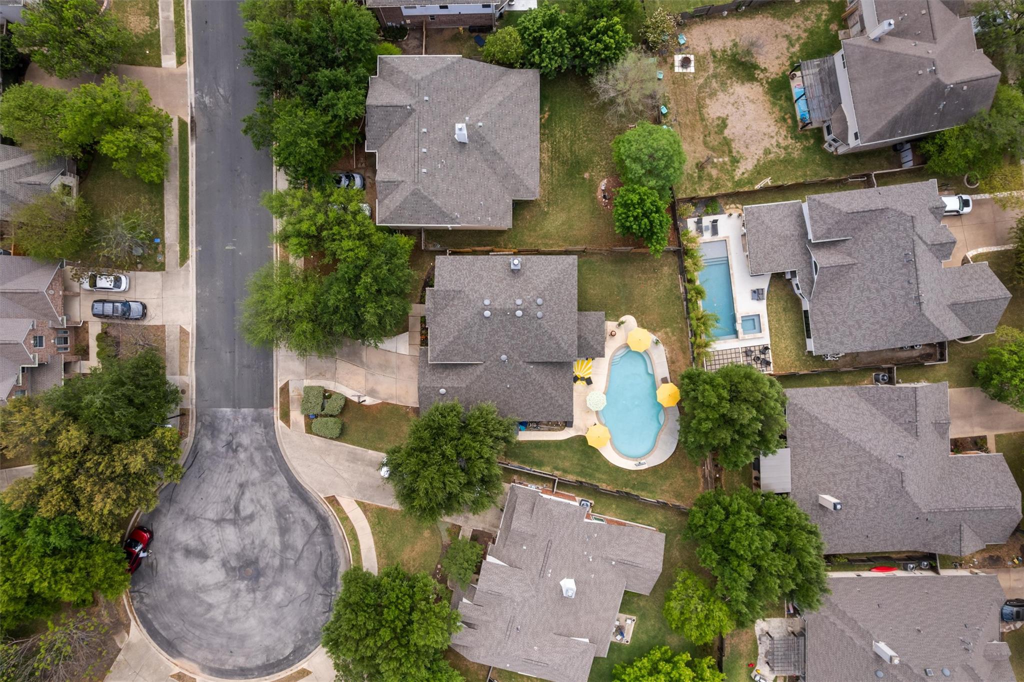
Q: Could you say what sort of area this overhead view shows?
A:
residential area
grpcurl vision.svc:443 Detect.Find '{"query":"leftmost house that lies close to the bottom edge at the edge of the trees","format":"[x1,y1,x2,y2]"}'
[449,482,670,682]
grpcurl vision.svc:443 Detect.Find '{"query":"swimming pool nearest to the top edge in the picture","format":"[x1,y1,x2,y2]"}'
[795,87,810,124]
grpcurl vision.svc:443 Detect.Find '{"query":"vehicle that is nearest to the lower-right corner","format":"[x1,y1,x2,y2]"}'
[997,597,1024,623]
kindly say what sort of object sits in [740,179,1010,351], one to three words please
house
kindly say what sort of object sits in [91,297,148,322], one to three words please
car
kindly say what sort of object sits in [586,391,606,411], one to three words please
umbrella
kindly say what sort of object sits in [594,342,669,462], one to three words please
swimming pool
